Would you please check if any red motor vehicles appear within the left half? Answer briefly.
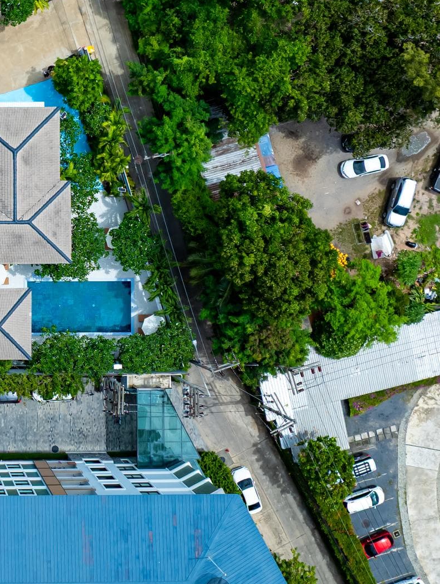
No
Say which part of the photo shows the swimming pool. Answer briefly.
left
